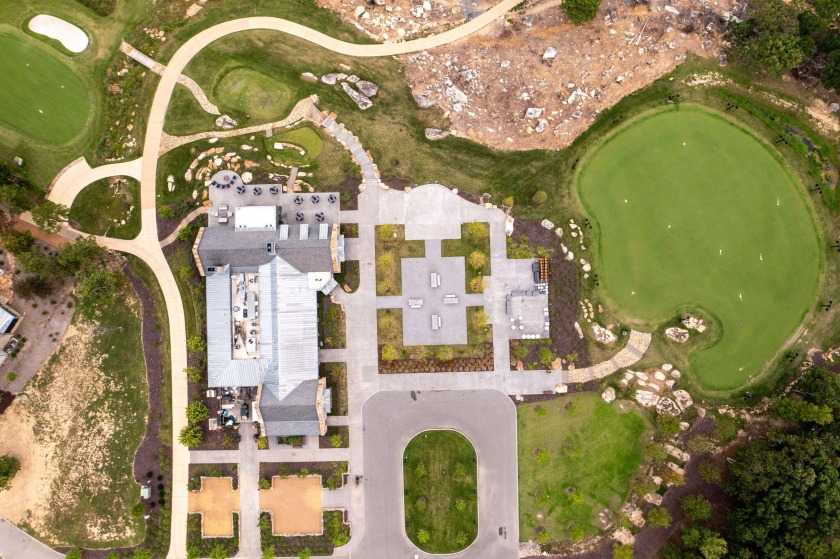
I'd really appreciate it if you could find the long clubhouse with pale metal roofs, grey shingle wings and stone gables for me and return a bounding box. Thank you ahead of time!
[188,206,345,437]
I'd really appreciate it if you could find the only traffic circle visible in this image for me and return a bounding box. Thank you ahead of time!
[357,391,518,559]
